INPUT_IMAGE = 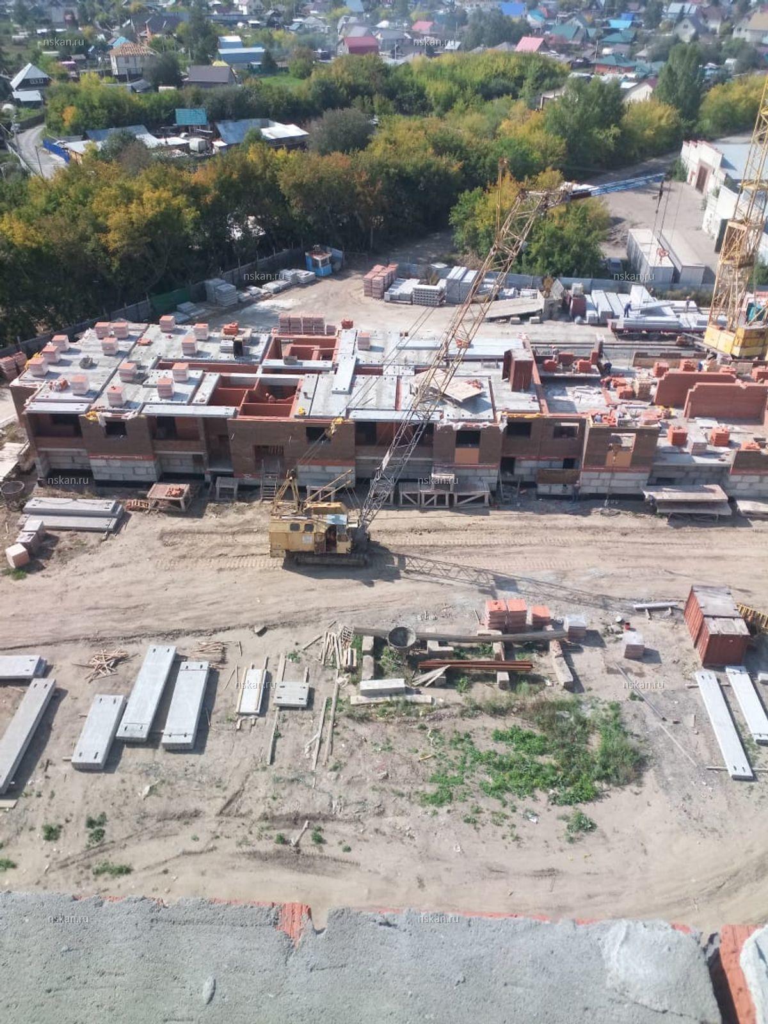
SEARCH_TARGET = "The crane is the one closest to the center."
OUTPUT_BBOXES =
[267,158,668,573]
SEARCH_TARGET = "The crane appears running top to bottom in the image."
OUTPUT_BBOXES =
[680,92,768,357]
